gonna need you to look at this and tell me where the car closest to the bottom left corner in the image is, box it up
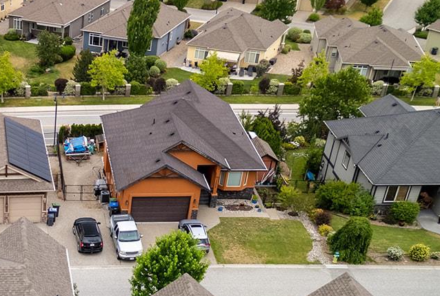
[71,217,107,251]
